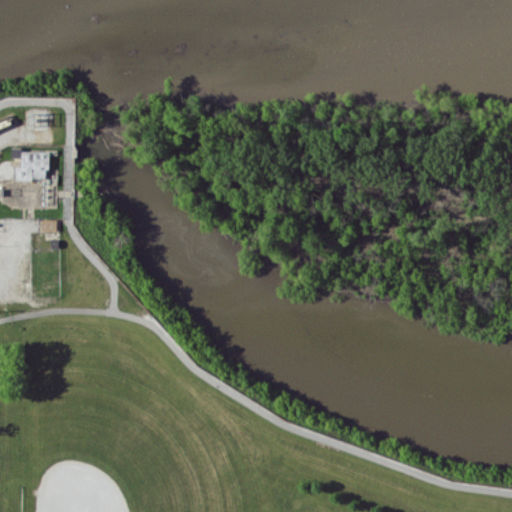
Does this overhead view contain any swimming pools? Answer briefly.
No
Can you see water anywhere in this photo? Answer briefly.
Yes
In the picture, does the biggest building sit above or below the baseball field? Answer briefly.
above it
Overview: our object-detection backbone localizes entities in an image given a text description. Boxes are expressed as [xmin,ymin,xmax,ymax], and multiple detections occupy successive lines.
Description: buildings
[16,152,50,182]
[42,220,58,232]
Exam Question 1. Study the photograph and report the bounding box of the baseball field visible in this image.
[33,356,225,512]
